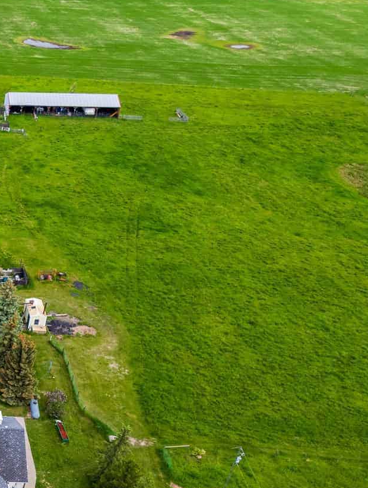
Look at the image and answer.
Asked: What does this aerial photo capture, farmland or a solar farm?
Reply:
farmland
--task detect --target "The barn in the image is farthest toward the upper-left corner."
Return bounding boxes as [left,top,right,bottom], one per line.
[6,93,123,119]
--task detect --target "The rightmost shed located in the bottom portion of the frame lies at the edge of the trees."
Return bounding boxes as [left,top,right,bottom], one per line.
[25,298,50,336]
